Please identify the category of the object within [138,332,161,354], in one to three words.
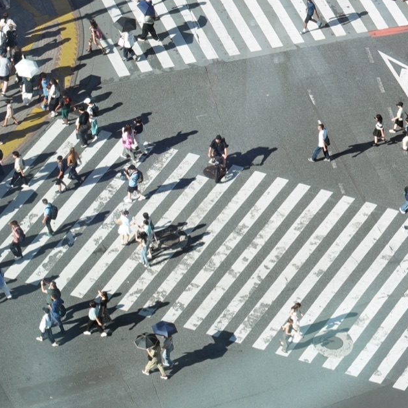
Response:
umbrella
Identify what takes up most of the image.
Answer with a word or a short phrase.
paved ground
